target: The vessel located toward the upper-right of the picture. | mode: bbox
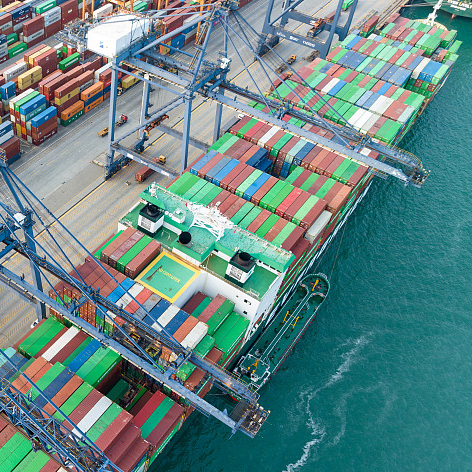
[438,0,472,22]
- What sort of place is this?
port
